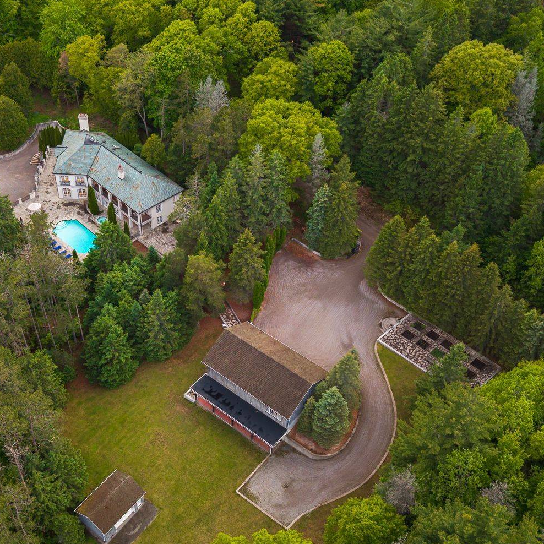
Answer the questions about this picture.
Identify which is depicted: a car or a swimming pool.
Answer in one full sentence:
The image shows a swimming pool.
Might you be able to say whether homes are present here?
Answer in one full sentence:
Yes, there is a home in the image.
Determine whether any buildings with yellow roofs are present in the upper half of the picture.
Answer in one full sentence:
No, there's no building with a yellow roof to be seen in the upper half of the picture.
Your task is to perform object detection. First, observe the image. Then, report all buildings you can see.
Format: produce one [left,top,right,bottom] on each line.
[74,470,146,543]
[53,111,184,238]
[187,323,331,455]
